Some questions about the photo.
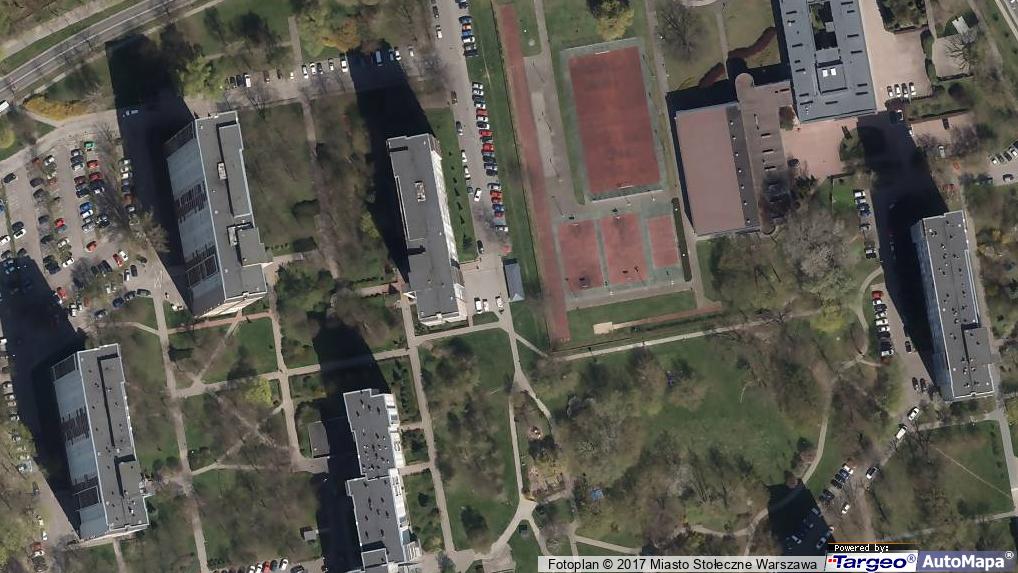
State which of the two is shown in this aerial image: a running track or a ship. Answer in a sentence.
It is a running track that can be seen here.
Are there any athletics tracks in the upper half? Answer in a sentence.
Yes, the scene does show an athletics track in the upper half.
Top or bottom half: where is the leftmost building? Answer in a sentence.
The leftmost building is in the bottom half of the image.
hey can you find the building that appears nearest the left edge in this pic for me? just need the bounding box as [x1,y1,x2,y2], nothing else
[57,343,149,543]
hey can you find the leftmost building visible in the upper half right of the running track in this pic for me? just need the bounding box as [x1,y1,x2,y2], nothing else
[671,102,760,239]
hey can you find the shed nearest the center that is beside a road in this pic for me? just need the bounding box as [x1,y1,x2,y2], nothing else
[505,263,524,302]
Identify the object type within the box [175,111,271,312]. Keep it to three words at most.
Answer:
building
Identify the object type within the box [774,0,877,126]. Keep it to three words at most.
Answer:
building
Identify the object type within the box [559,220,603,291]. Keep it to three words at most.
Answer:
sports court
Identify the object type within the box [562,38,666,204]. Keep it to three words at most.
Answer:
sports court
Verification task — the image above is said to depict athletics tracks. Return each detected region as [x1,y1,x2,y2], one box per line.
[501,3,570,340]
